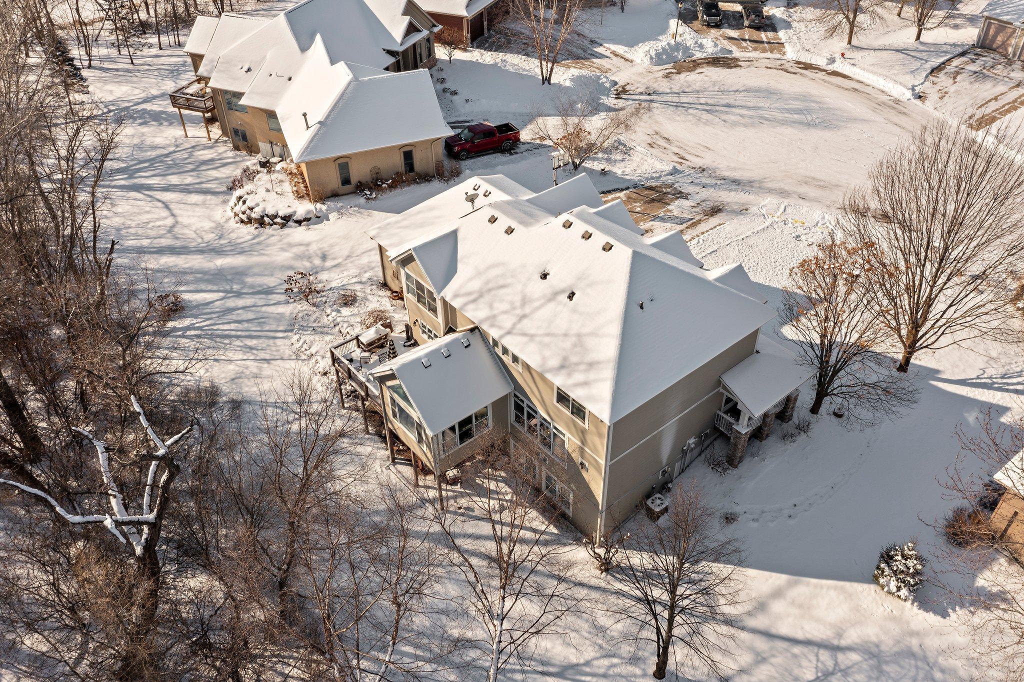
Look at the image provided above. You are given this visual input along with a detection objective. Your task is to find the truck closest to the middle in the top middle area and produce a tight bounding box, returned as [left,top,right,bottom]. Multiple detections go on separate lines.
[441,123,522,162]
